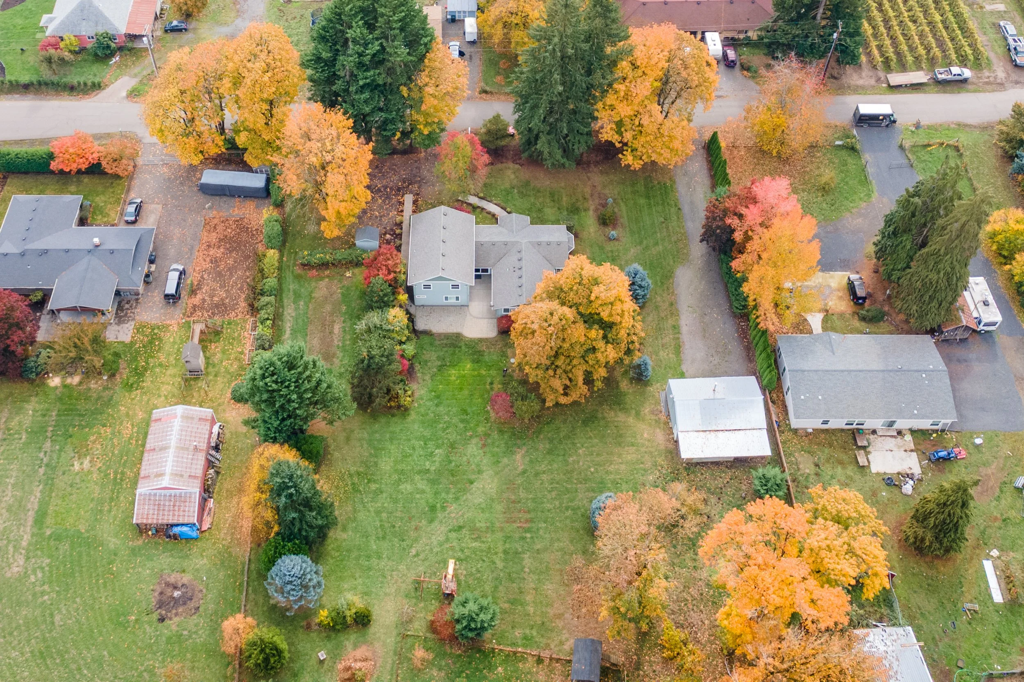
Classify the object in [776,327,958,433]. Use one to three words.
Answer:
house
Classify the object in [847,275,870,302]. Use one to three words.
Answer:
car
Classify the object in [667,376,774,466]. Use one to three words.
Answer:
building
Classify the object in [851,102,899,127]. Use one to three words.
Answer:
vehicle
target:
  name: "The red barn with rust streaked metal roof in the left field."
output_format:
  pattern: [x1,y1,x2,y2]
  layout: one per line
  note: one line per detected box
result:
[131,404,215,533]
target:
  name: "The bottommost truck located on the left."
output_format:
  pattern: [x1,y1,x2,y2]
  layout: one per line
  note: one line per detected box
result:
[163,264,187,300]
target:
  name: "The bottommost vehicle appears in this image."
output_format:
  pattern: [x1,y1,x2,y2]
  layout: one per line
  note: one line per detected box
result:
[926,445,969,468]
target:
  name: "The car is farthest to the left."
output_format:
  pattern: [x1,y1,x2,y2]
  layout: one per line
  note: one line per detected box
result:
[122,196,142,221]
